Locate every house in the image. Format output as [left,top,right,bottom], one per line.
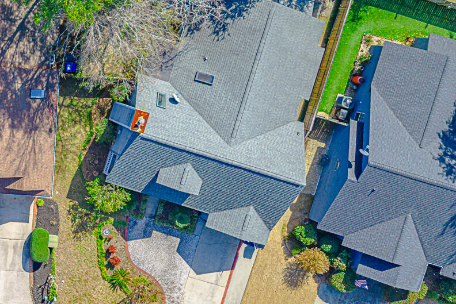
[101,0,327,249]
[307,33,456,292]
[0,0,61,198]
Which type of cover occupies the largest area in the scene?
buildings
